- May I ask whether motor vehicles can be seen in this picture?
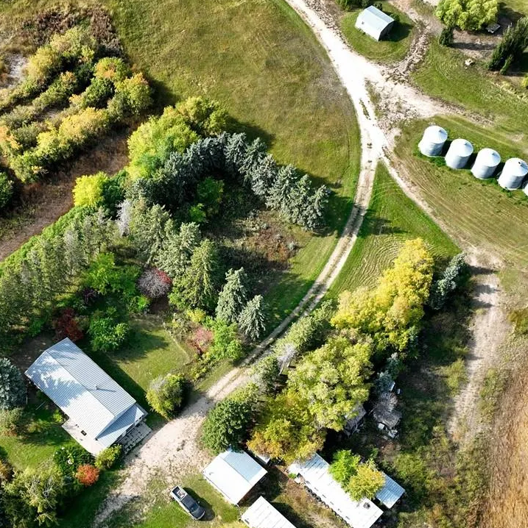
Yes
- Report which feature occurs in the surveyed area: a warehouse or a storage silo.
storage silo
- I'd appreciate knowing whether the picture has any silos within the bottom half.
No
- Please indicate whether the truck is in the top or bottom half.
bottom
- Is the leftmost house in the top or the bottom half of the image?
bottom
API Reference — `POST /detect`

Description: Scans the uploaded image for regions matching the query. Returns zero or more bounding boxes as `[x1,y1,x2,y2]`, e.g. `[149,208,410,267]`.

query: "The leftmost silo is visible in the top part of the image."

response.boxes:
[418,124,447,158]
